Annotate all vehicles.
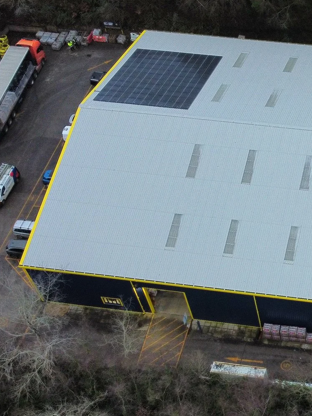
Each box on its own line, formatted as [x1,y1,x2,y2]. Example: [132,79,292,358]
[60,125,72,145]
[7,242,26,263]
[90,71,110,87]
[11,223,34,245]
[40,171,54,191]
[0,37,50,138]
[68,116,76,126]
[0,165,20,209]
